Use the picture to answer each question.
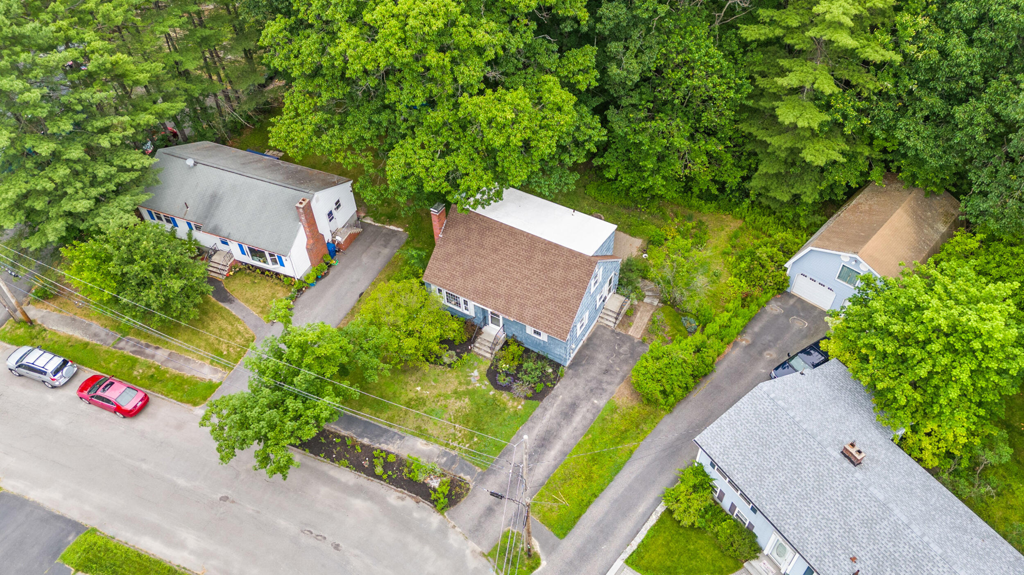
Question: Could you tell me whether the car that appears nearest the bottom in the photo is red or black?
red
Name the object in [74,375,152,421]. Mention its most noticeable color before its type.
red car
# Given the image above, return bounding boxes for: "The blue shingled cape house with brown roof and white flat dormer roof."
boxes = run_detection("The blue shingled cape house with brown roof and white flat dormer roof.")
[424,182,628,366]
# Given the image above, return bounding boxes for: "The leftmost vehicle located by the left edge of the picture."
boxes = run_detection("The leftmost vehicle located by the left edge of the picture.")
[3,347,78,392]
